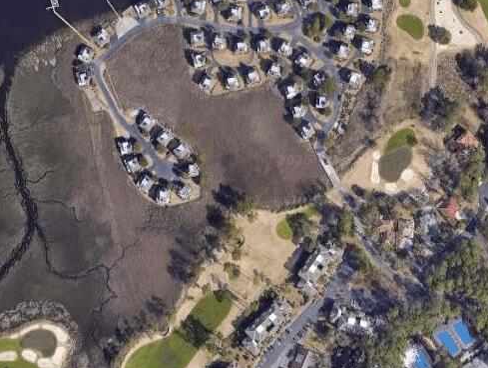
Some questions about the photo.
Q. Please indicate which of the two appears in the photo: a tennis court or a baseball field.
tennis court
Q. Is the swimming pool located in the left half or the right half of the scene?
right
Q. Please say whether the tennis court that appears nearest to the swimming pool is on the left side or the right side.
right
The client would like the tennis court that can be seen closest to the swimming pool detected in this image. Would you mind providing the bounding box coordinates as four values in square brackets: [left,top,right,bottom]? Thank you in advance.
[433,324,463,358]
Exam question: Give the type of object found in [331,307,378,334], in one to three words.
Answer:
building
